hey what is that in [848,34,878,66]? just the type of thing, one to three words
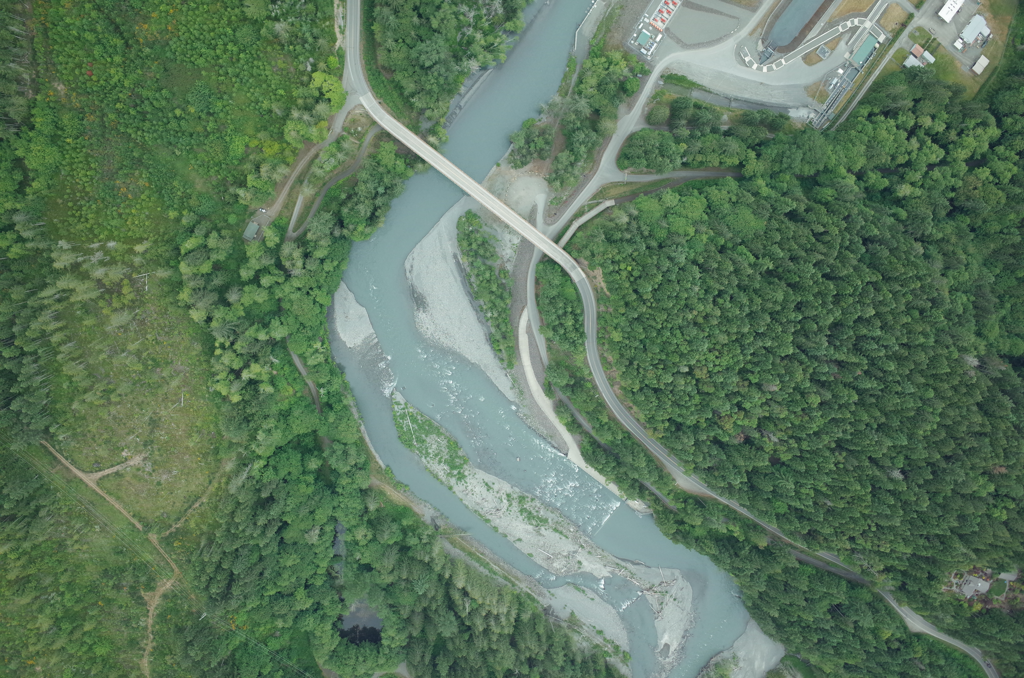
building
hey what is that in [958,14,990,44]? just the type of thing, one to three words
barn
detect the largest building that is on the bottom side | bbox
[959,574,990,596]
